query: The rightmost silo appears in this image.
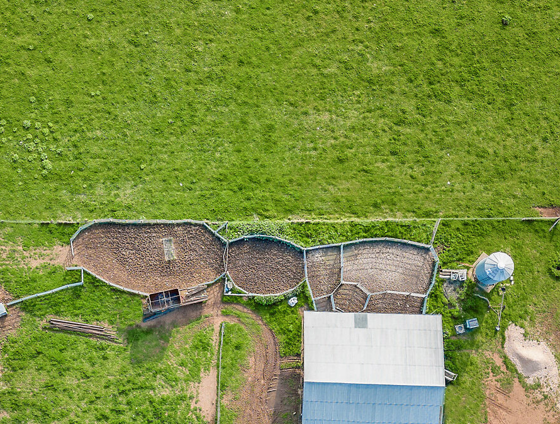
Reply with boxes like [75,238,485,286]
[469,251,514,291]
